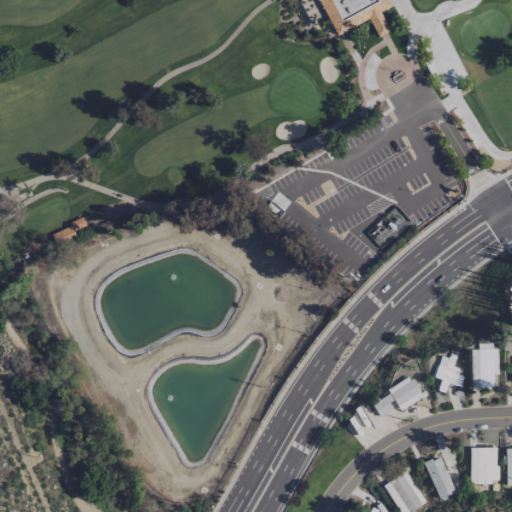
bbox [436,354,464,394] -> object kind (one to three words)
house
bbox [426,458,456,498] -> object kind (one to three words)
house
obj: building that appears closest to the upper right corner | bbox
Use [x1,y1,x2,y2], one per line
[321,0,394,36]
